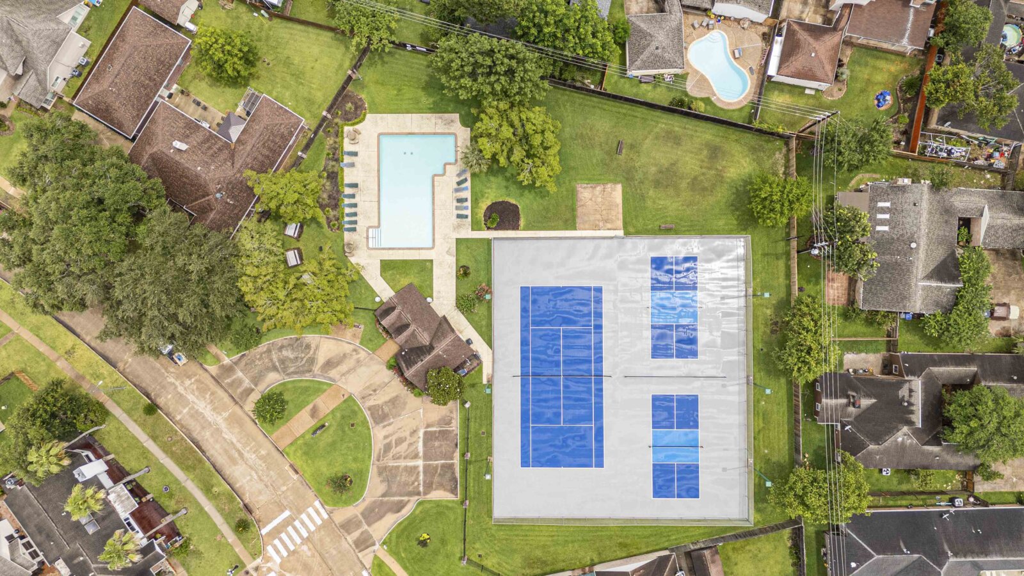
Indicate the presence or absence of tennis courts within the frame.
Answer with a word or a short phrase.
Yes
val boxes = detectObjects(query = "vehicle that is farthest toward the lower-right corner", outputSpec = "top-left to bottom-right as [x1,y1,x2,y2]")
[990,302,1020,321]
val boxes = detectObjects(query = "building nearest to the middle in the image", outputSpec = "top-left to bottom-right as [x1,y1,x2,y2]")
[375,284,478,391]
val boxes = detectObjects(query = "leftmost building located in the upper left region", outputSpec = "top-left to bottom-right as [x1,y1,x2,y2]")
[0,0,111,112]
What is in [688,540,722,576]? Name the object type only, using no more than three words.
shed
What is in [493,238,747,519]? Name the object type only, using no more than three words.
sports court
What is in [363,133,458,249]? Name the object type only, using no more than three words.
swimming pool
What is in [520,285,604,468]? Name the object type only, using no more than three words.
tennis court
